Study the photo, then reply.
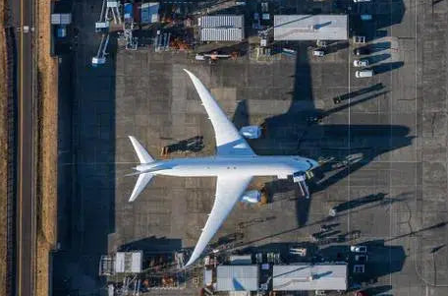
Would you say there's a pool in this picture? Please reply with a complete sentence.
No, the photo shows no pool.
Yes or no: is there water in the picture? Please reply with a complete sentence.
No, there is no water in the image.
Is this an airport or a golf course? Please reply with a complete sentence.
The picture captures an airport.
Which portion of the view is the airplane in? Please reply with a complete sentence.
The airplane appears toward the center of the photo.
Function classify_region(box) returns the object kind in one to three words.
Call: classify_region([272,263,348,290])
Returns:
shed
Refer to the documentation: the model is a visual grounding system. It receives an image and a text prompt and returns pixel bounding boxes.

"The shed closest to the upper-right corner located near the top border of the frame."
[273,14,349,40]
